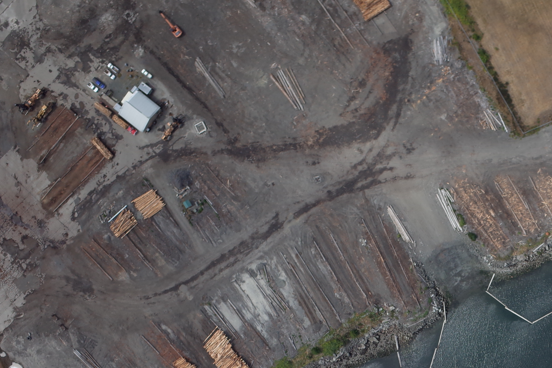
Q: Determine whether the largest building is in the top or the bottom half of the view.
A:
top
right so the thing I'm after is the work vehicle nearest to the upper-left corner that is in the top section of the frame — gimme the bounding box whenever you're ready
[18,90,44,113]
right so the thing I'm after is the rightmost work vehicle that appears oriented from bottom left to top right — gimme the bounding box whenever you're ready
[163,114,185,139]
